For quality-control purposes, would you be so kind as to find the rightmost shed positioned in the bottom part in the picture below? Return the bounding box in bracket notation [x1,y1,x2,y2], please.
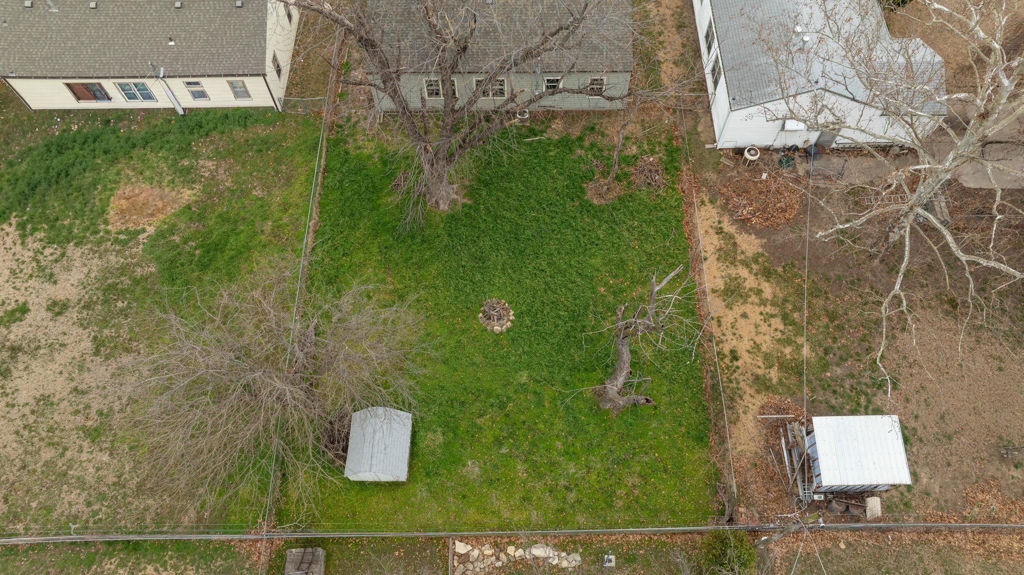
[806,415,917,492]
